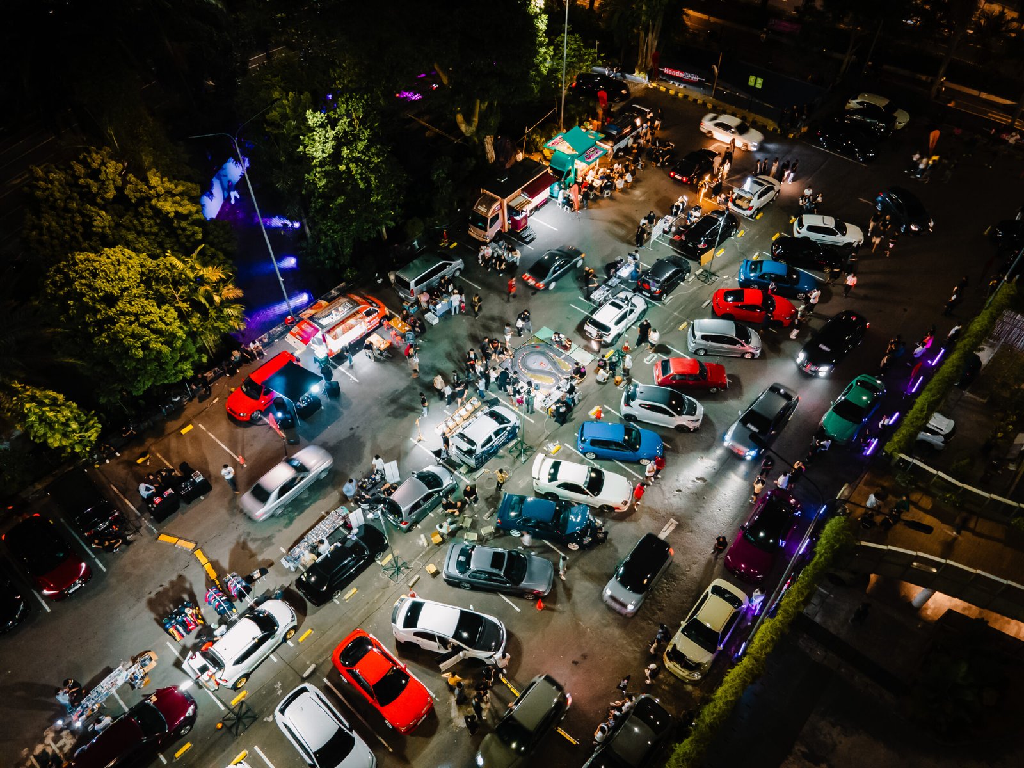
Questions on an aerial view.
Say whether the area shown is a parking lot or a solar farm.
parking lot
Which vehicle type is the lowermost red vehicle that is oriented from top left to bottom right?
car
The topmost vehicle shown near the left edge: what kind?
automobile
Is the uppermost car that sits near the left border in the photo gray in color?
No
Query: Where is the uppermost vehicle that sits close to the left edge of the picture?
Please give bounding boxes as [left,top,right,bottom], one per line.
[36,465,121,545]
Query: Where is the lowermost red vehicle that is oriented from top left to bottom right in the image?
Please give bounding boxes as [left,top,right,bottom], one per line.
[327,623,434,740]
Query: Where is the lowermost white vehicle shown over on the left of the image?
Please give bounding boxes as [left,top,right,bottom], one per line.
[270,672,385,768]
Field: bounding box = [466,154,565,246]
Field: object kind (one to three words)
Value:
truck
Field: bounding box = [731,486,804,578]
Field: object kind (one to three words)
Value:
car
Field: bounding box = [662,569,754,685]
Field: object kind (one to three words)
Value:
car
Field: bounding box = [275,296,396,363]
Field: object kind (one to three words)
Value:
van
